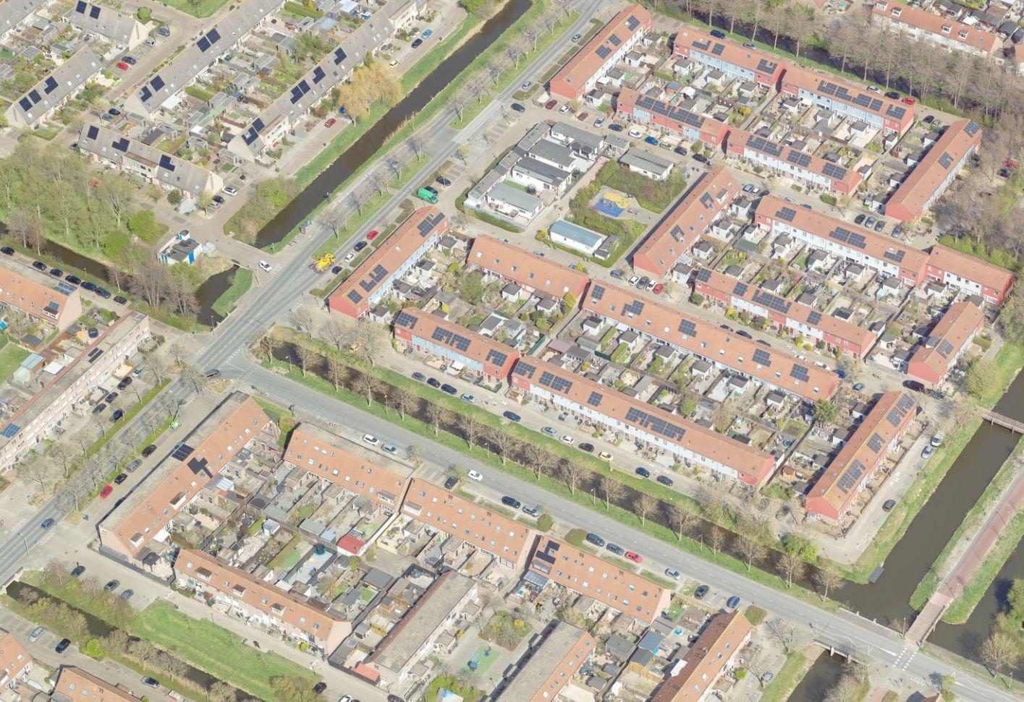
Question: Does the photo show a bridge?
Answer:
Yes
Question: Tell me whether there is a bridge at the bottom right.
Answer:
Yes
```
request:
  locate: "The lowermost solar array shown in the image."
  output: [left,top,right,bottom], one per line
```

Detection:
[540,543,562,567]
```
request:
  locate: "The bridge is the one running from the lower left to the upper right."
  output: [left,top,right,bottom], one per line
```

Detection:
[906,597,952,645]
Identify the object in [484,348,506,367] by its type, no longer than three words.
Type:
solar array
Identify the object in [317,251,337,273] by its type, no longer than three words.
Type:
vehicle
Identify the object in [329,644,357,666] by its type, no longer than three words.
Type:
shed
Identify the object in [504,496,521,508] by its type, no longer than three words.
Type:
vehicle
